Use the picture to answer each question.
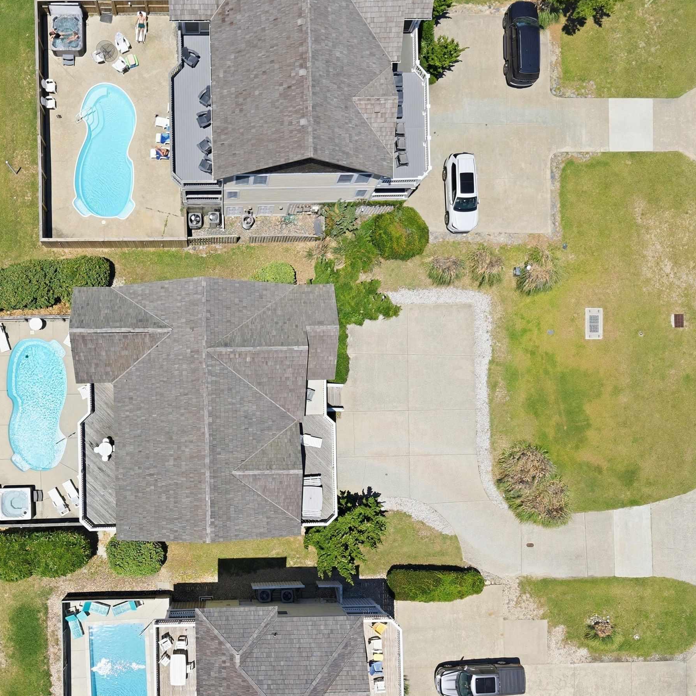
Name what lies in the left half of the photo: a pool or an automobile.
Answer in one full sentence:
Visible in the left half of the photo is a pool.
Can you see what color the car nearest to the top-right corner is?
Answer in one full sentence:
From above, the car nearest to the top-right corner appears black.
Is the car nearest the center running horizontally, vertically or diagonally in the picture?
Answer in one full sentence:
The car nearest the center is laid out vertically.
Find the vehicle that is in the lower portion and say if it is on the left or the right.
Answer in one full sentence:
The vehicle that is in the lower portion is on the right side of the image.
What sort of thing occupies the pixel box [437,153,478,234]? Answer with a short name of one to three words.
car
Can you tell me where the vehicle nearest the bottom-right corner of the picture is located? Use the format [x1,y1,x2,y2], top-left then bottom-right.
[431,656,528,696]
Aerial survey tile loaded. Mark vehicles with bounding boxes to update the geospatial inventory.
[431,656,528,696]
[437,153,478,234]
[496,4,539,93]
